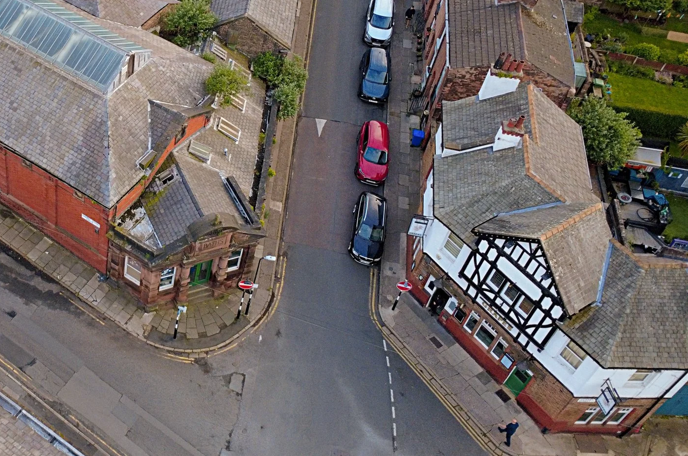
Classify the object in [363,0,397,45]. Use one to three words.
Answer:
car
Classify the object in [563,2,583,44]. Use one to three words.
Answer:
shed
